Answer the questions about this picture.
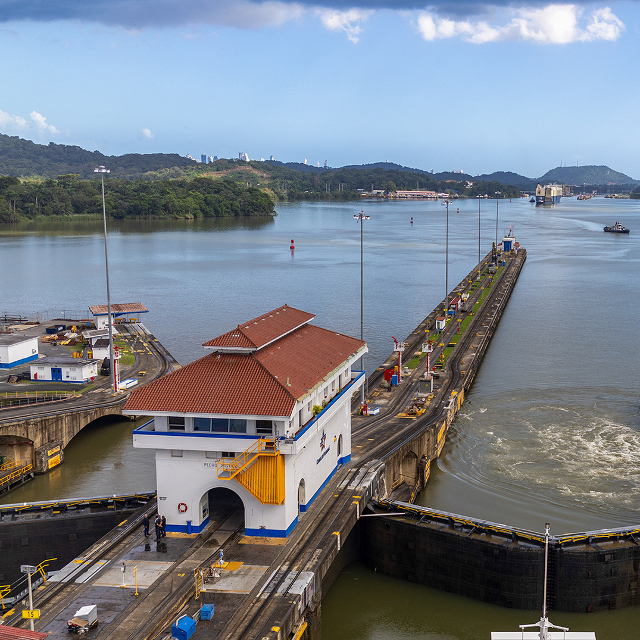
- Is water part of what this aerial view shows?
Yes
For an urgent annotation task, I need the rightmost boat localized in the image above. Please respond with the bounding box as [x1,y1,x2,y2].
[602,217,630,232]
